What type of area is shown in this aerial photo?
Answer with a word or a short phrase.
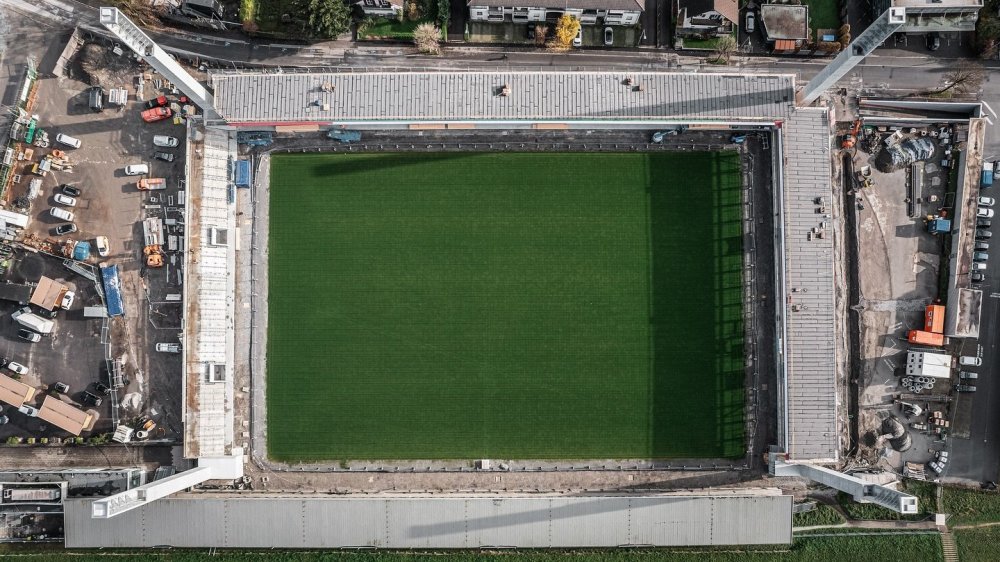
sports ground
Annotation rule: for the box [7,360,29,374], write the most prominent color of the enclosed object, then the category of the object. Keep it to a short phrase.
white car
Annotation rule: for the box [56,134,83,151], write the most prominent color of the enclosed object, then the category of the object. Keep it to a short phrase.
white vehicle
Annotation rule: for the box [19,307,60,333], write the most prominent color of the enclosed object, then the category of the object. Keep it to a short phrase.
white truck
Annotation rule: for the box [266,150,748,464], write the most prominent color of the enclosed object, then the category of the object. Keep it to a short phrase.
green soccer field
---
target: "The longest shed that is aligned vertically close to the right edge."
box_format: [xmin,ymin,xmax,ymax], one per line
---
[948,117,986,288]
